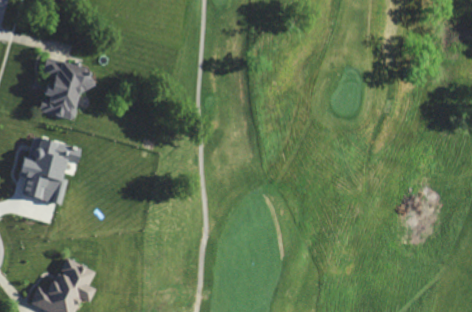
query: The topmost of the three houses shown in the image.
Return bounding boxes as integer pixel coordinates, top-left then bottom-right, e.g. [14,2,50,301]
[38,59,98,120]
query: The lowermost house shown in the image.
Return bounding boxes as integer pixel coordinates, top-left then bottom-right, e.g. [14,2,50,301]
[34,254,98,312]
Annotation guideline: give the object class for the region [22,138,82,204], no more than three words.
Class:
house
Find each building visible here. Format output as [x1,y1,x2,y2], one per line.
[38,59,98,120]
[22,138,82,204]
[34,254,98,312]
